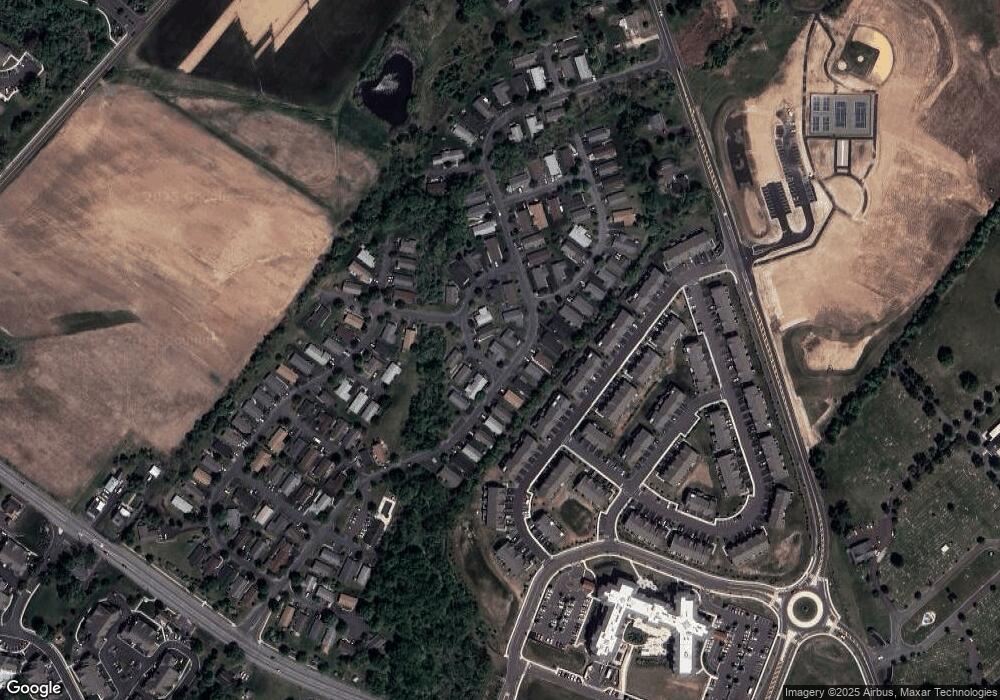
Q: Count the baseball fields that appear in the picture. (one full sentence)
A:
The count comes to 1 baseball field.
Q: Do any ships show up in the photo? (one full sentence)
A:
No, I can't see a single ship in this photo.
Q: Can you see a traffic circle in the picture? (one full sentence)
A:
Yes, you can see a traffic circle in this photo.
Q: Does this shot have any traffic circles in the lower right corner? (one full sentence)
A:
Yes, you'll find a traffic circle in the lower right corner.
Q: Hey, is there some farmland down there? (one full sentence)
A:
Yes, there's farmland in this view.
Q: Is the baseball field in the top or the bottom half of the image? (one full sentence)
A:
The baseball field sits in the top half of the picture.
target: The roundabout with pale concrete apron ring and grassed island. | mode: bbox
[777,582,832,637]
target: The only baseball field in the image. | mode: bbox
[833,25,894,85]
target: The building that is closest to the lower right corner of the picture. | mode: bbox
[849,541,875,565]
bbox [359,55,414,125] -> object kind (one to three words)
pond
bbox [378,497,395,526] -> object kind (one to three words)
swimming pool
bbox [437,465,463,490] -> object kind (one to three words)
house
